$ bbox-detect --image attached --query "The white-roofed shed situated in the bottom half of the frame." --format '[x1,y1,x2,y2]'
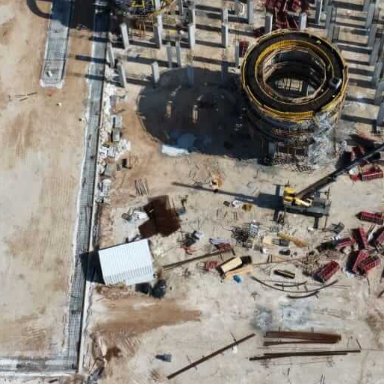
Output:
[102,243,154,289]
